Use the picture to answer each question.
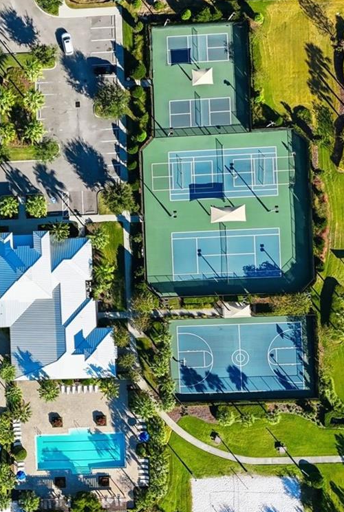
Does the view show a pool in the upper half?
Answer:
No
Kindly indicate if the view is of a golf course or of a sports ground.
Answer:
sports ground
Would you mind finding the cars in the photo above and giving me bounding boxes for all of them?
[94,63,116,74]
[61,31,74,55]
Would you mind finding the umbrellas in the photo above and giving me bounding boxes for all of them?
[17,473,27,484]
[141,433,152,444]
